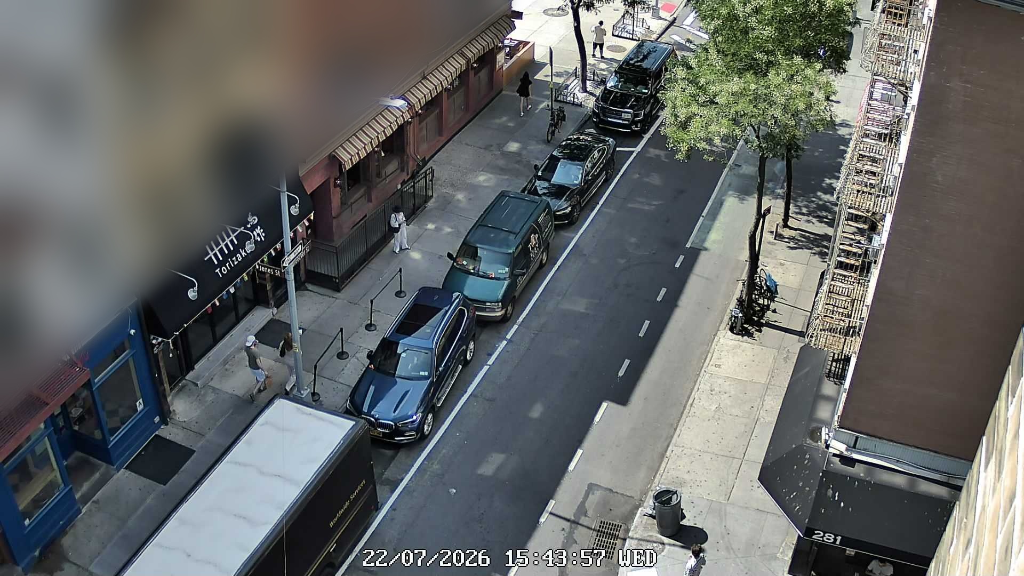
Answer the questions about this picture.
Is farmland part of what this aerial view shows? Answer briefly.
No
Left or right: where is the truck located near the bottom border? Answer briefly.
left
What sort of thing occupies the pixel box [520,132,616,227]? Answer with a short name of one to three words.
car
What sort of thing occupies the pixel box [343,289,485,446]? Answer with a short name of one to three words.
car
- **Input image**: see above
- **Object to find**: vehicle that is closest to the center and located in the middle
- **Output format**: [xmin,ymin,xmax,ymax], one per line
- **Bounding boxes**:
[438,186,559,326]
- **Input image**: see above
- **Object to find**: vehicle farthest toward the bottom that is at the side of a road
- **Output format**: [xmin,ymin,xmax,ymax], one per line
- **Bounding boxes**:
[117,391,376,576]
